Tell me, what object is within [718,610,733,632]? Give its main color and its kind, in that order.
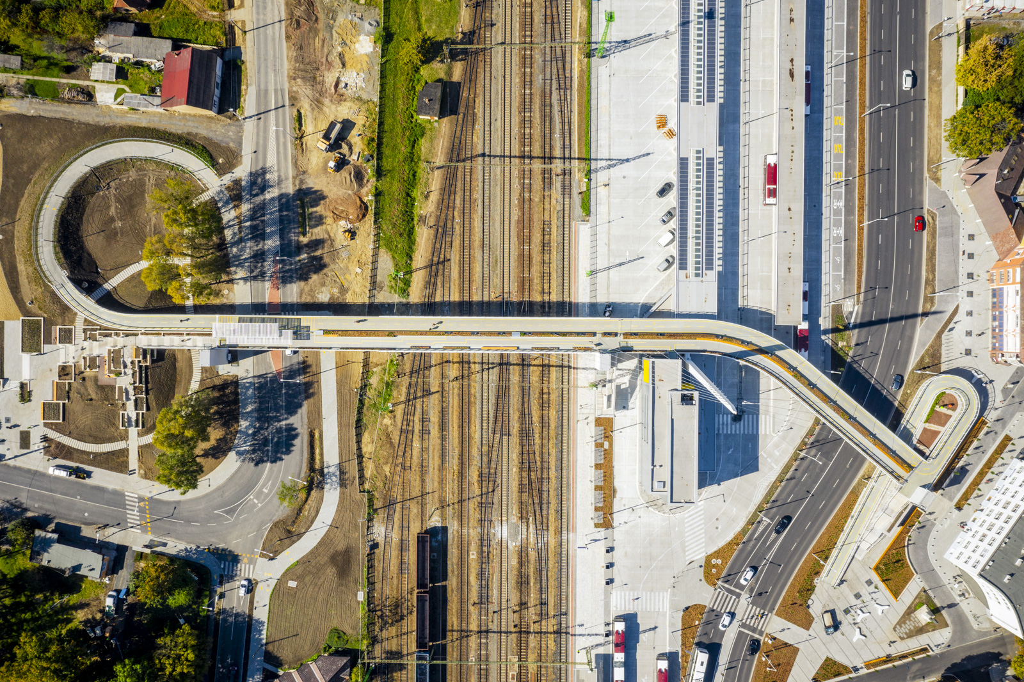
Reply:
white car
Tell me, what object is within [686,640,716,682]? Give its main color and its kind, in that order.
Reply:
white bus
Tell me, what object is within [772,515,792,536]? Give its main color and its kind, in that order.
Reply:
black car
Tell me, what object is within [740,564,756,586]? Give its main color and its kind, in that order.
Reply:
white car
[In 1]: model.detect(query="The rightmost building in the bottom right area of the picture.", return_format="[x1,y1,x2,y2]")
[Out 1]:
[941,445,1024,639]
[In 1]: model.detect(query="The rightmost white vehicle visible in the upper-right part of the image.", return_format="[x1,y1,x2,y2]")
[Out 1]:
[901,69,914,91]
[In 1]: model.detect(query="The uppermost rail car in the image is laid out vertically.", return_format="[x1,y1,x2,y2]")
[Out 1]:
[416,531,430,589]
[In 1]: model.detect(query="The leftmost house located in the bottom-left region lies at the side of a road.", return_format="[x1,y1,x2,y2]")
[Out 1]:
[29,526,119,580]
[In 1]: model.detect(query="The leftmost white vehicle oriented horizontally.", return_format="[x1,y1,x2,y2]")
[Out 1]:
[48,466,72,478]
